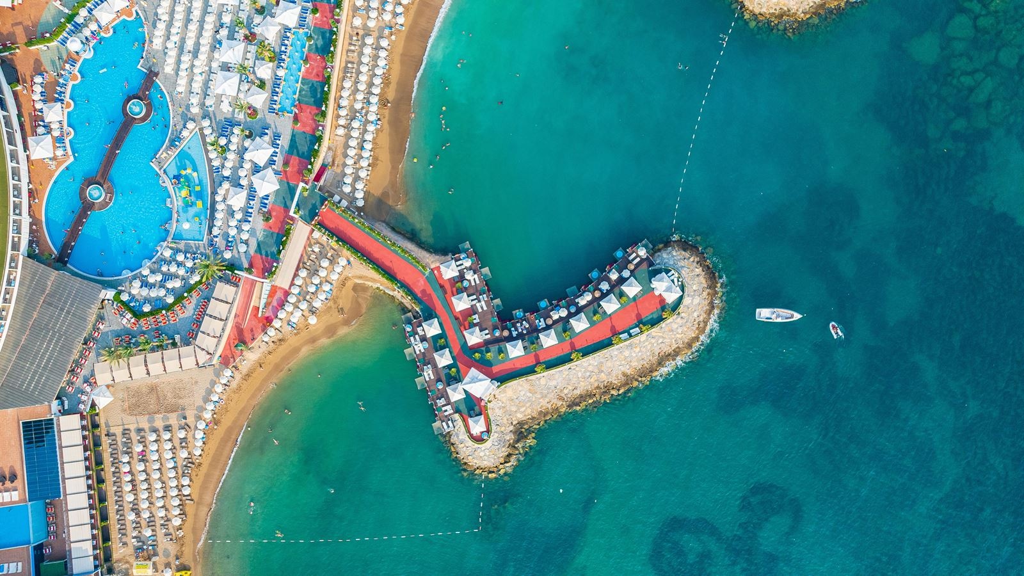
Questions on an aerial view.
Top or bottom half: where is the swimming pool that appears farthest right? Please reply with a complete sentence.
The top half of the photo is where the swimming pool that appears farthest right is.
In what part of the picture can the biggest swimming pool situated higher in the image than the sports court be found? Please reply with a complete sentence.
You can find the biggest swimming pool situated higher in the image than the sports court in the top left area of the picture.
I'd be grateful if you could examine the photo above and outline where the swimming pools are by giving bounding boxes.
[42,7,175,279]
[0,501,48,551]
[161,129,211,244]
[276,29,311,115]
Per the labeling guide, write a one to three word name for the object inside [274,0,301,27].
umbrella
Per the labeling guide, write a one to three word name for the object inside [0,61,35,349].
building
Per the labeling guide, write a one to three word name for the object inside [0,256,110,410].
building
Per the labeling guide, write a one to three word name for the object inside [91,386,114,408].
gazebo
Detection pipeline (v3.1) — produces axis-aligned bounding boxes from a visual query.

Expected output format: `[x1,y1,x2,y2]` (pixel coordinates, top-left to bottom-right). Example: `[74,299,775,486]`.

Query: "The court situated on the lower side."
[122,374,198,419]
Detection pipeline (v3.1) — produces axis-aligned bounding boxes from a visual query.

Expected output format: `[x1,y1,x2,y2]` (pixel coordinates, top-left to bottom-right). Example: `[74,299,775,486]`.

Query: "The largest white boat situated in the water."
[754,309,802,322]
